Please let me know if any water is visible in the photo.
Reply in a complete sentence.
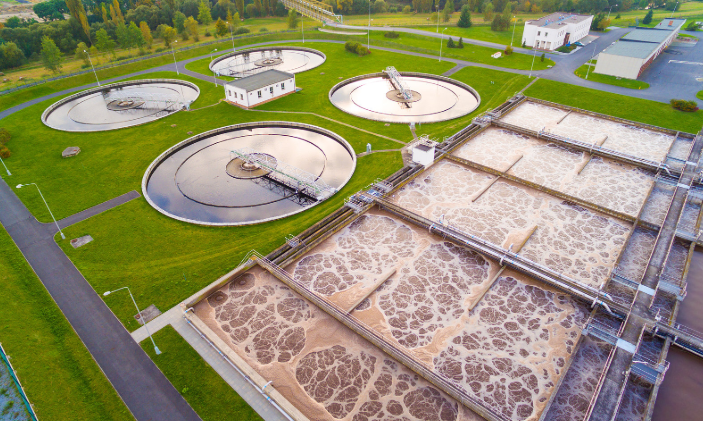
Yes, some water is visible.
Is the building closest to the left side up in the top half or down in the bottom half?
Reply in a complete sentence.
The top half of the photo is where the building closest to the left side is.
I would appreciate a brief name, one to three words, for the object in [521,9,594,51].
building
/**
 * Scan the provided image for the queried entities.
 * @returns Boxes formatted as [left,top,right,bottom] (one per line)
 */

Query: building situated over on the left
[223,69,309,111]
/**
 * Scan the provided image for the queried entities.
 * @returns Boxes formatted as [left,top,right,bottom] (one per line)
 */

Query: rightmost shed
[593,14,685,80]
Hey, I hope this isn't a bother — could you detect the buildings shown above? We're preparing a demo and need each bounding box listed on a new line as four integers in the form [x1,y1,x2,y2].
[410,138,437,166]
[521,9,594,51]
[593,14,685,80]
[223,69,309,111]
